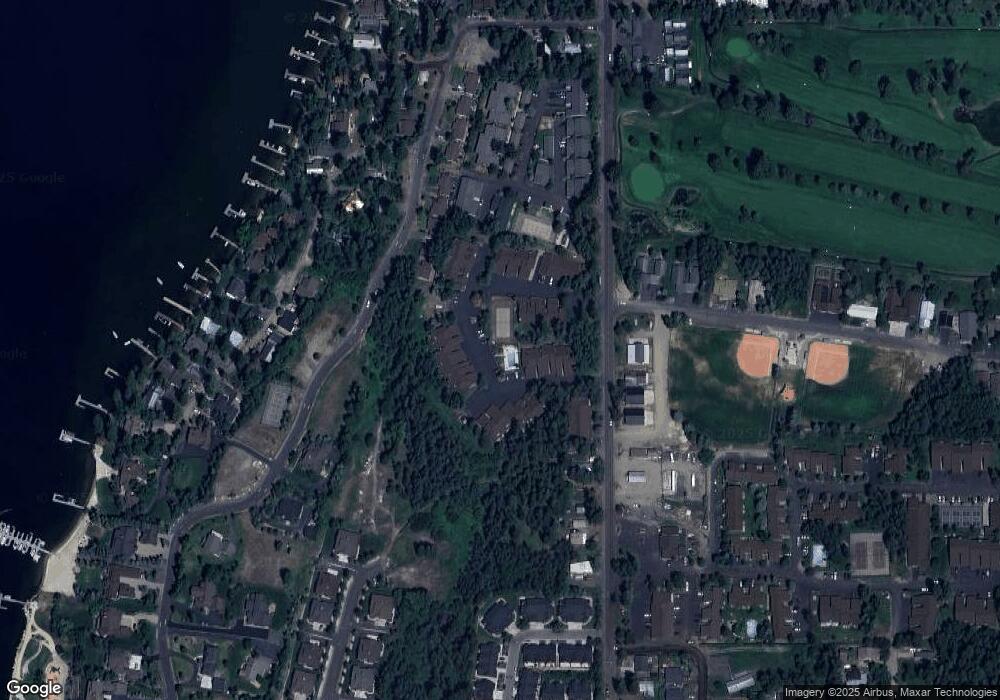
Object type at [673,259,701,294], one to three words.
building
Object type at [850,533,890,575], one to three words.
tennis court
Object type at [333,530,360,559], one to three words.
house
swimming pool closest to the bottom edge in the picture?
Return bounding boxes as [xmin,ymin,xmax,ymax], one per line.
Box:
[745,618,759,640]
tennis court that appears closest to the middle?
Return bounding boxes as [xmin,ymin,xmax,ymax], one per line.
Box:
[492,297,515,341]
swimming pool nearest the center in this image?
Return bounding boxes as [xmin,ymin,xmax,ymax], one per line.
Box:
[503,344,519,371]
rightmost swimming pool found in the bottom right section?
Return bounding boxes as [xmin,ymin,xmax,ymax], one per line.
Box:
[812,542,828,568]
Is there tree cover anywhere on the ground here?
Yes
